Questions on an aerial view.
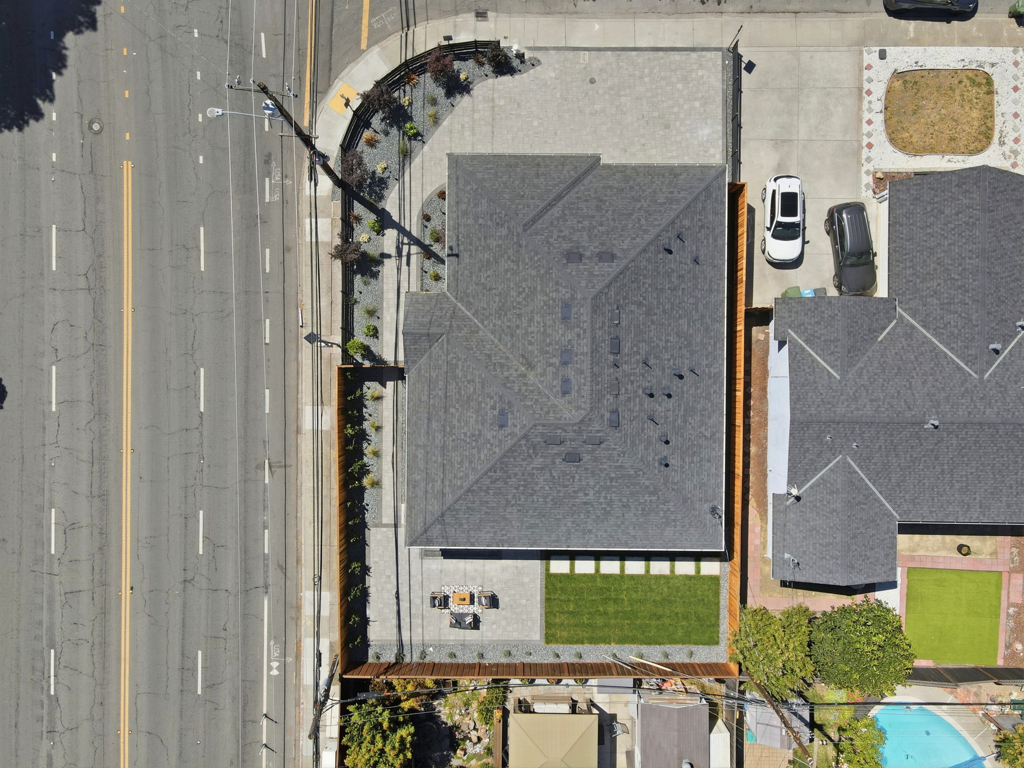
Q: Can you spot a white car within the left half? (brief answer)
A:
No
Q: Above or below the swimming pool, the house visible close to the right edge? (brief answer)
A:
above it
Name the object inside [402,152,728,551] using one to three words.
house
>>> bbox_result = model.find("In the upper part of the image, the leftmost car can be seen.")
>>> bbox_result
[761,171,811,264]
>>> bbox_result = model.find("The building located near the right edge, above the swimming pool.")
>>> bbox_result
[759,164,1024,586]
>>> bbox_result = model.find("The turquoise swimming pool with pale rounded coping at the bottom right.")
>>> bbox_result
[864,695,993,768]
